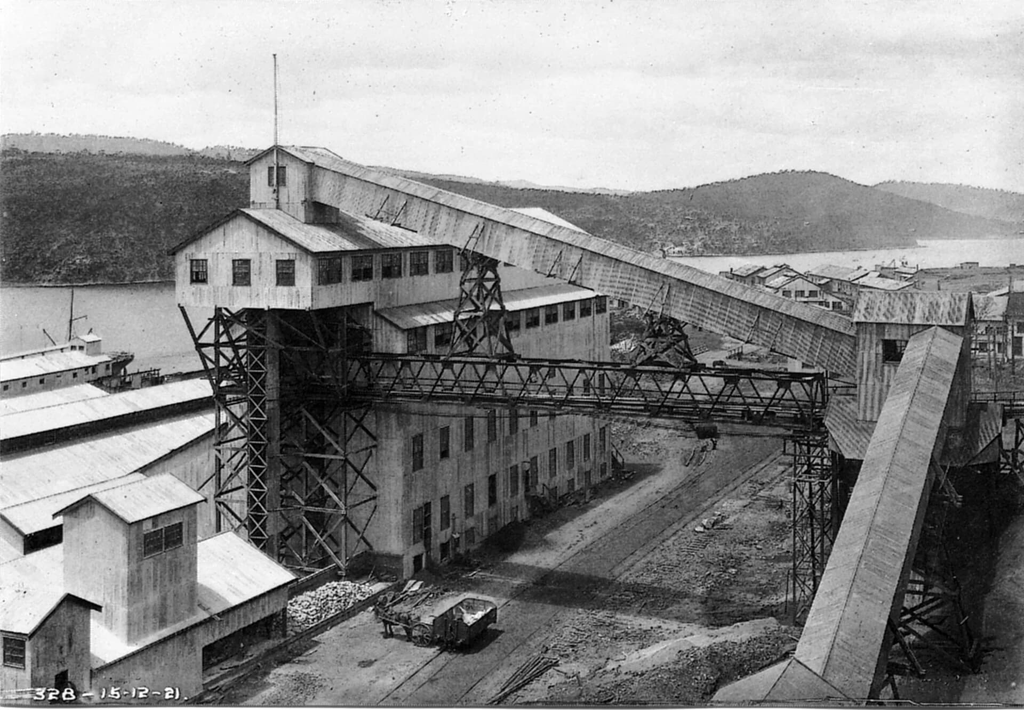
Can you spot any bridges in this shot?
Yes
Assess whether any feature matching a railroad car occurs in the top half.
No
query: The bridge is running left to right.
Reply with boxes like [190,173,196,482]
[318,349,827,433]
